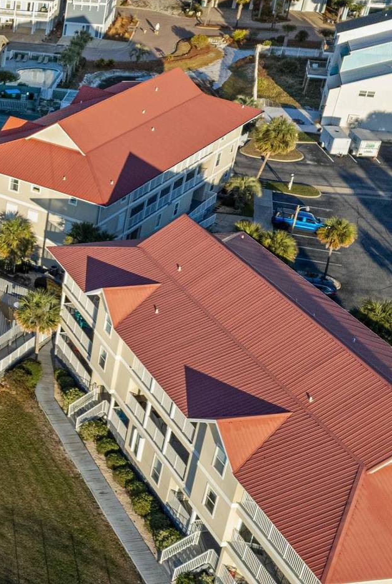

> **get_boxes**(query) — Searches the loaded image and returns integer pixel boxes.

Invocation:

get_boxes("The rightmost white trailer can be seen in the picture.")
[353,130,381,158]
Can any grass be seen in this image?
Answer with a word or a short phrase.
Yes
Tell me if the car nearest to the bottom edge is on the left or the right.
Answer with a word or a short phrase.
right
